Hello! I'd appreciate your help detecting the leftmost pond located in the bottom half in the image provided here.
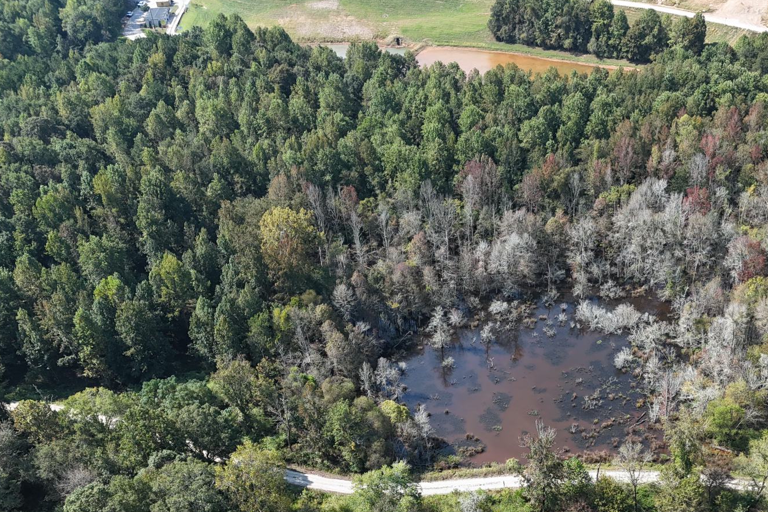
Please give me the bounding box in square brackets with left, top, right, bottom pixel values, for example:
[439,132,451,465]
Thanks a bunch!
[381,288,679,465]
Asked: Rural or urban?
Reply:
rural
